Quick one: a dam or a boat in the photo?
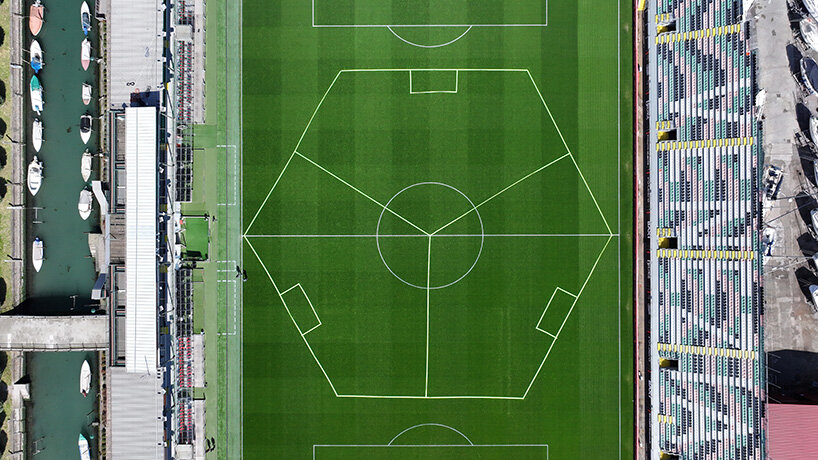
boat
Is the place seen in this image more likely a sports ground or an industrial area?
sports ground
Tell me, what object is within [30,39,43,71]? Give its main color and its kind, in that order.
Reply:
white boat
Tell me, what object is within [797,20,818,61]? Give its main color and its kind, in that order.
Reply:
white boat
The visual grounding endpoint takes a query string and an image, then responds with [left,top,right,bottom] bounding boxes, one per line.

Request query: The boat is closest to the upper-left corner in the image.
[30,2,44,38]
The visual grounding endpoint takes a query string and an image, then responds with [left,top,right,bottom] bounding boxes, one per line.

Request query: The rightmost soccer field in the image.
[240,0,632,460]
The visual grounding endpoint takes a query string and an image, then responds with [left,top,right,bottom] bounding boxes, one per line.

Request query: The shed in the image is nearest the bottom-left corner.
[92,272,109,299]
